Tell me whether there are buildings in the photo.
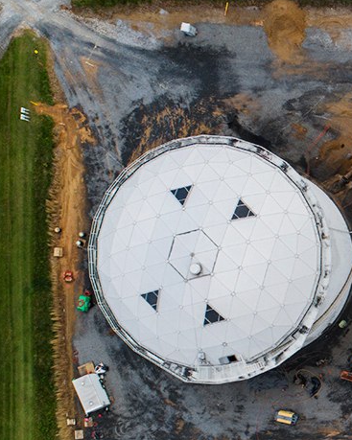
No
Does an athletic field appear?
No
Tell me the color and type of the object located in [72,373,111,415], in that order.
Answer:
white trailer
